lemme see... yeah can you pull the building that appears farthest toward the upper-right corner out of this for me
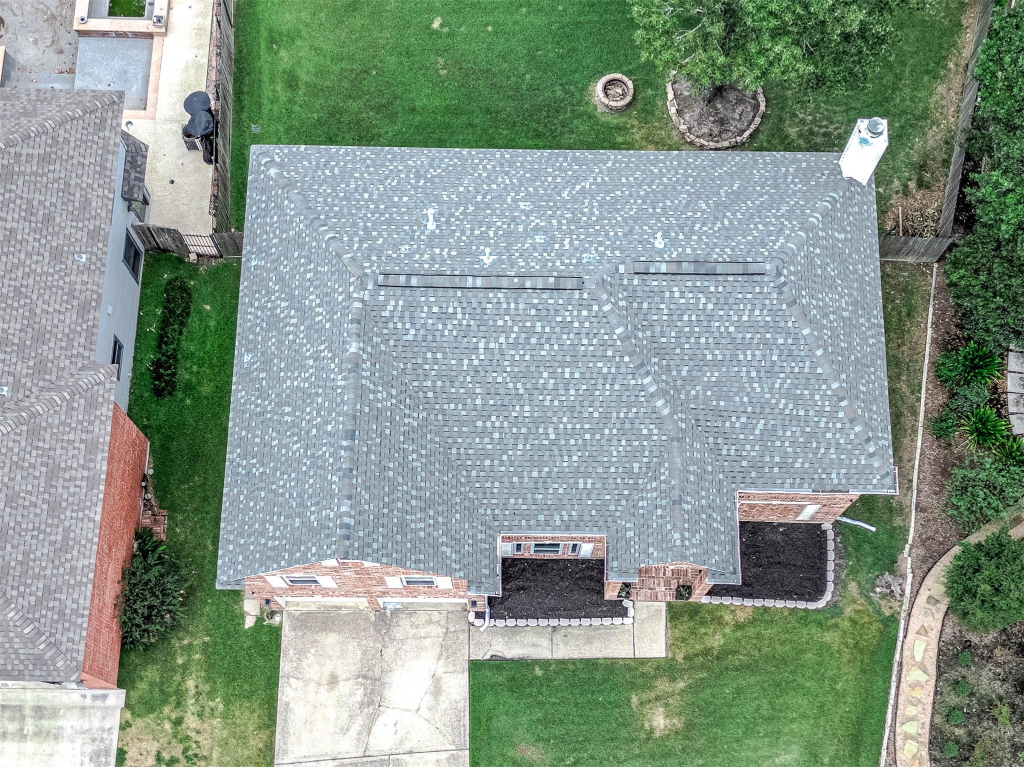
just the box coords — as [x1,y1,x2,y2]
[216,113,897,631]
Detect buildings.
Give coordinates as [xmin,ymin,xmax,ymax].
[216,113,897,631]
[0,87,166,686]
